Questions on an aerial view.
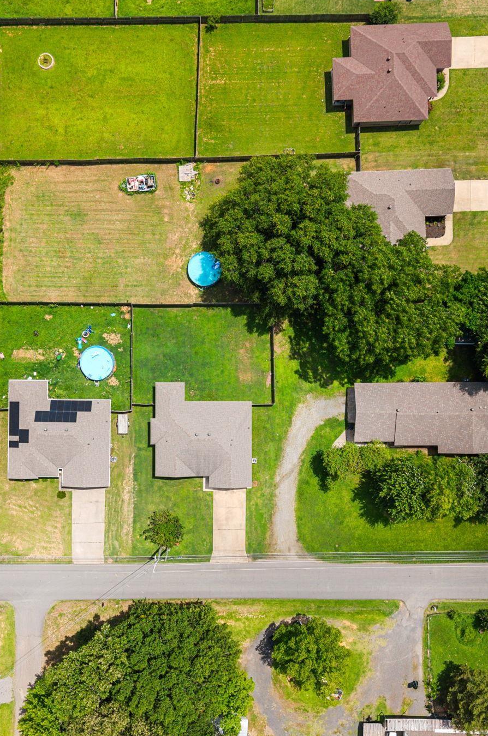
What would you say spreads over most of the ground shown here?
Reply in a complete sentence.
The largest share of the image is taken up by grass.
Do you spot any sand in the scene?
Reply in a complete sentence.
No, there's no sand in this view.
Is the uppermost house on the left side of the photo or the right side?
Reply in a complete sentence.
The uppermost house appears in the right half of the scene.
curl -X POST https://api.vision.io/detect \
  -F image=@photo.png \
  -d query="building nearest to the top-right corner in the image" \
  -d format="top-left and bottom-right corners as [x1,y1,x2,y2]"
[333,22,454,126]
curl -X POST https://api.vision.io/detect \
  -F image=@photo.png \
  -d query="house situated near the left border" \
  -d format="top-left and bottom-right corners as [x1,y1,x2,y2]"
[9,379,111,487]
